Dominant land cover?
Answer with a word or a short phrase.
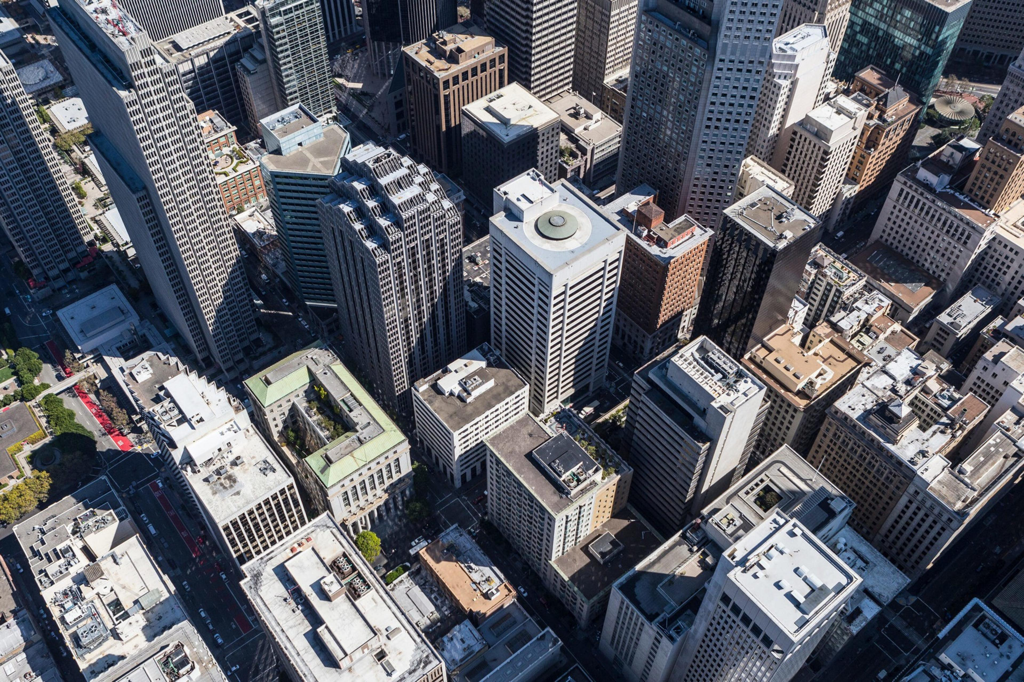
buildings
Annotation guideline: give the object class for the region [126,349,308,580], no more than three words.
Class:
building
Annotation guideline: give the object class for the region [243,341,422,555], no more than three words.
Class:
building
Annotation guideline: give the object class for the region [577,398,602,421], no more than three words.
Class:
truck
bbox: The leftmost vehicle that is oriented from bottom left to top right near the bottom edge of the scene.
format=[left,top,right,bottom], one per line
[226,664,240,677]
